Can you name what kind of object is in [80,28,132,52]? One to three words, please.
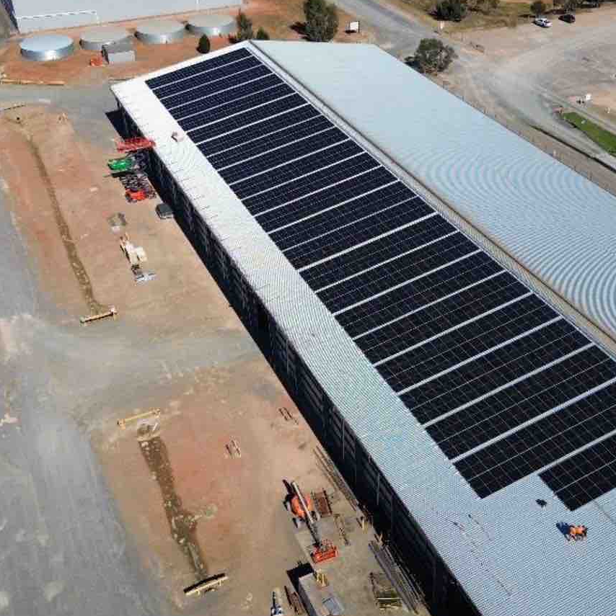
water tank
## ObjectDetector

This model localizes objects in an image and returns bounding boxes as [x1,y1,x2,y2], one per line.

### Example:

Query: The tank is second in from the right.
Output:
[136,21,186,45]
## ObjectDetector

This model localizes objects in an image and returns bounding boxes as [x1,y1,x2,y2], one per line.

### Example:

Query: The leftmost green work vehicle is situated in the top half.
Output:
[93,154,137,177]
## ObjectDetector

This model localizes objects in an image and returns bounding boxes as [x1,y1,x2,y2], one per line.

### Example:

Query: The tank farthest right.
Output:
[188,17,236,38]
